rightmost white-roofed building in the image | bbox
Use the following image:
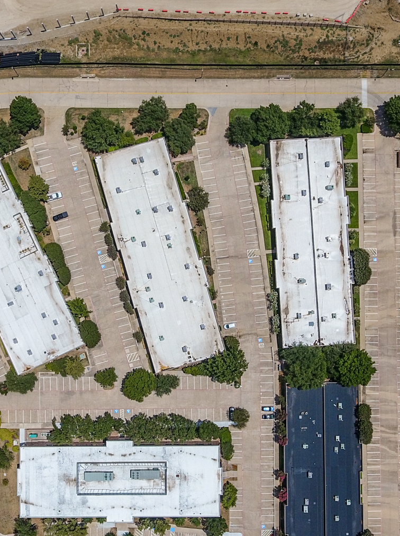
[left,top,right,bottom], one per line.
[268,136,356,348]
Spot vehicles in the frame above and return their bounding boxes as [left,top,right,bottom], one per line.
[223,322,236,330]
[261,413,274,420]
[52,212,69,221]
[261,406,274,411]
[47,191,62,201]
[229,405,234,419]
